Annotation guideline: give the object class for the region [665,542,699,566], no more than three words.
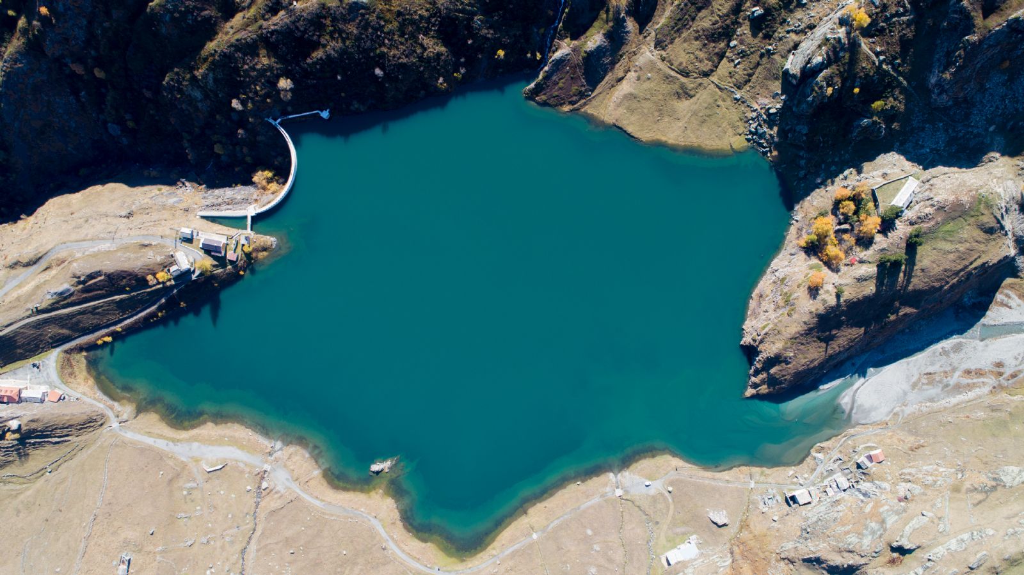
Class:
building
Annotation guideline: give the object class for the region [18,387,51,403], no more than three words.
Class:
house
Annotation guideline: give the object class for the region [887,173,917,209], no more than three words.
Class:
barn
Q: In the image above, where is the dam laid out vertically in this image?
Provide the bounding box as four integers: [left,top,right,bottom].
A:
[254,120,300,216]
